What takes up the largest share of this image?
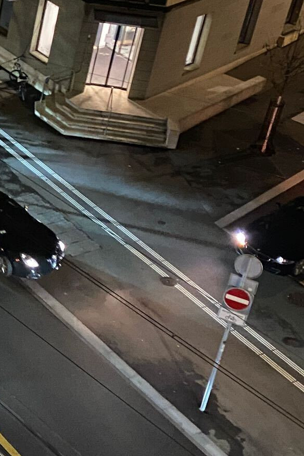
paved ground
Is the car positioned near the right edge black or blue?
black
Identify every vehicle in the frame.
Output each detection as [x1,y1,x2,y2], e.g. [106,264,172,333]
[0,191,71,278]
[232,188,304,276]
